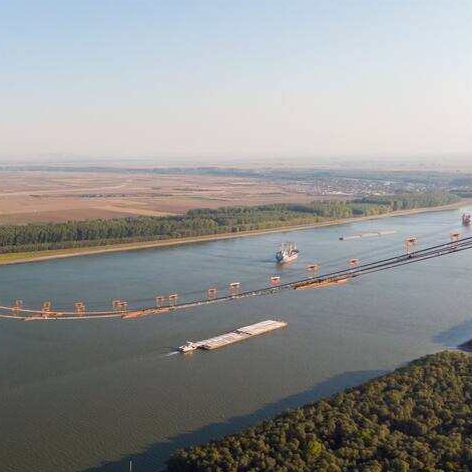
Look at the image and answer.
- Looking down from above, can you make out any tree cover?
Yes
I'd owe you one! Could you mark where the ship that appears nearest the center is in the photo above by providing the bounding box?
[276,242,298,264]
